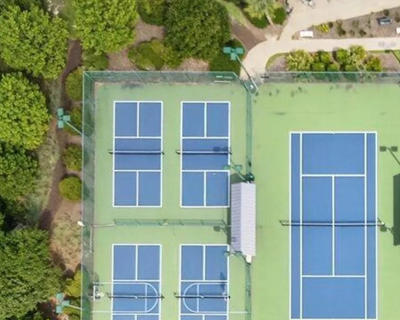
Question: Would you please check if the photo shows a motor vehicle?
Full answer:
No, the frame has no motor vehicle in it.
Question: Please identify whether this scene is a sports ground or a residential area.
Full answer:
This image shows a sports ground.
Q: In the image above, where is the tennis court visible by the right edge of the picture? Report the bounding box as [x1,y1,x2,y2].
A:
[249,84,400,320]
